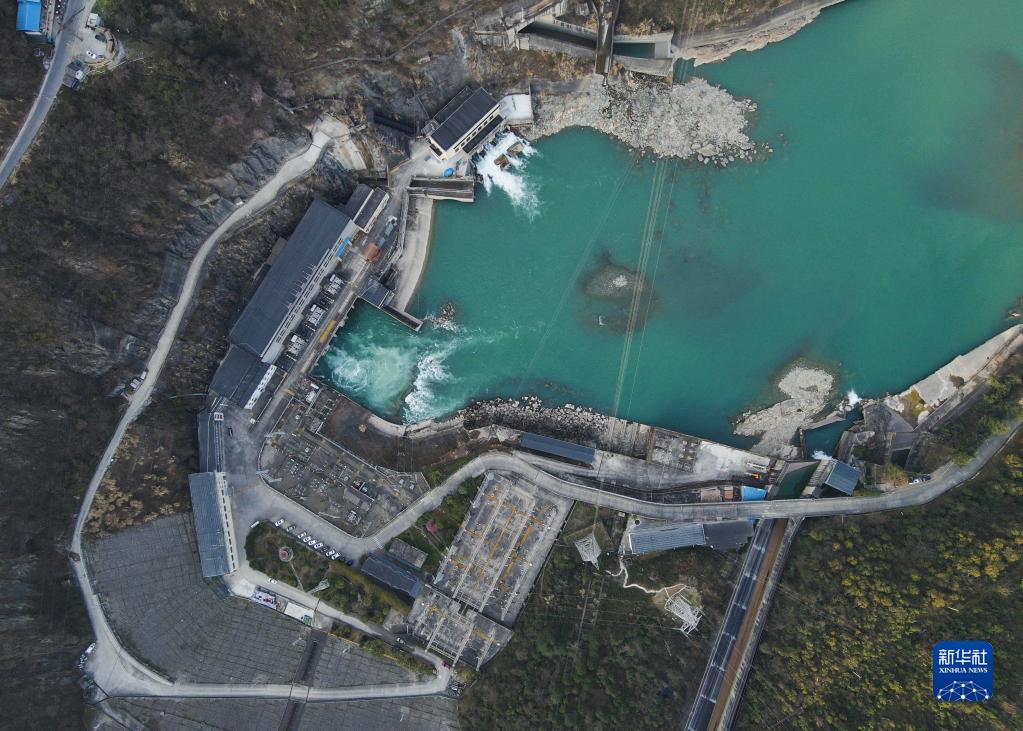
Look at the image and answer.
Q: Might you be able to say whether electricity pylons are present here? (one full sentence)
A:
Yes, looking at the shot, I can spot an electricity pylon.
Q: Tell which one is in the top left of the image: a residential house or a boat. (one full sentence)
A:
What appears in the top left of the image is a residential house.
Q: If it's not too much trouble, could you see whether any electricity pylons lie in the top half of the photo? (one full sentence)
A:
No, no electricity pylon appears in the top half of the photo.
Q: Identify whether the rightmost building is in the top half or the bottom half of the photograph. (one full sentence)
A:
It is in the bottom half that the rightmost building appears.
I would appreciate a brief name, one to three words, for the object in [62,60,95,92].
house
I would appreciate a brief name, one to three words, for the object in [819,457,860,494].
building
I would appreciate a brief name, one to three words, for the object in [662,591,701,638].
pylon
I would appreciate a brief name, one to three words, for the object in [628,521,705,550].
building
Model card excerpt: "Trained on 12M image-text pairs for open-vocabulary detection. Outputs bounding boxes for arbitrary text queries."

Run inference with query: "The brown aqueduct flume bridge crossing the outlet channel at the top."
[592,0,613,86]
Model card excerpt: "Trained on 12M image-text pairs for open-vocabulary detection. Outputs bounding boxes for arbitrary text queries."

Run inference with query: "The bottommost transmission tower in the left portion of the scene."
[309,576,333,599]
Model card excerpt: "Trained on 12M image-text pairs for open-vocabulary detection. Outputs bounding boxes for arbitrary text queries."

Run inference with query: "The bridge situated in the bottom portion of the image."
[762,499,808,517]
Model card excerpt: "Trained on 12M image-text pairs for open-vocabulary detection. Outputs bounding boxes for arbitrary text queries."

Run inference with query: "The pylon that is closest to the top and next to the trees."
[572,532,603,572]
